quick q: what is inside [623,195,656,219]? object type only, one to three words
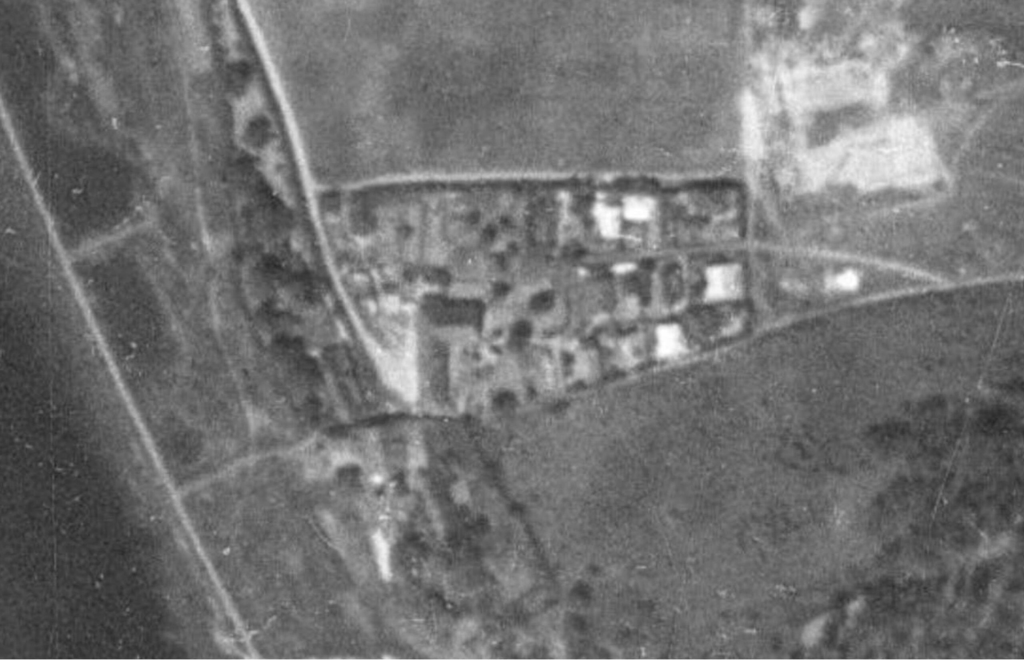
house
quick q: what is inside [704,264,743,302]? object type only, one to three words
house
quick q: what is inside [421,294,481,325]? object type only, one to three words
barn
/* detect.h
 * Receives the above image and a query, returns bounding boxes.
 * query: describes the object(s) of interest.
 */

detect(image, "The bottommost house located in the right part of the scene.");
[657,324,690,357]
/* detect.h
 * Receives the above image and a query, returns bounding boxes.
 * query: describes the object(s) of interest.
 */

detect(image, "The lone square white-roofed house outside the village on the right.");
[828,271,859,289]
